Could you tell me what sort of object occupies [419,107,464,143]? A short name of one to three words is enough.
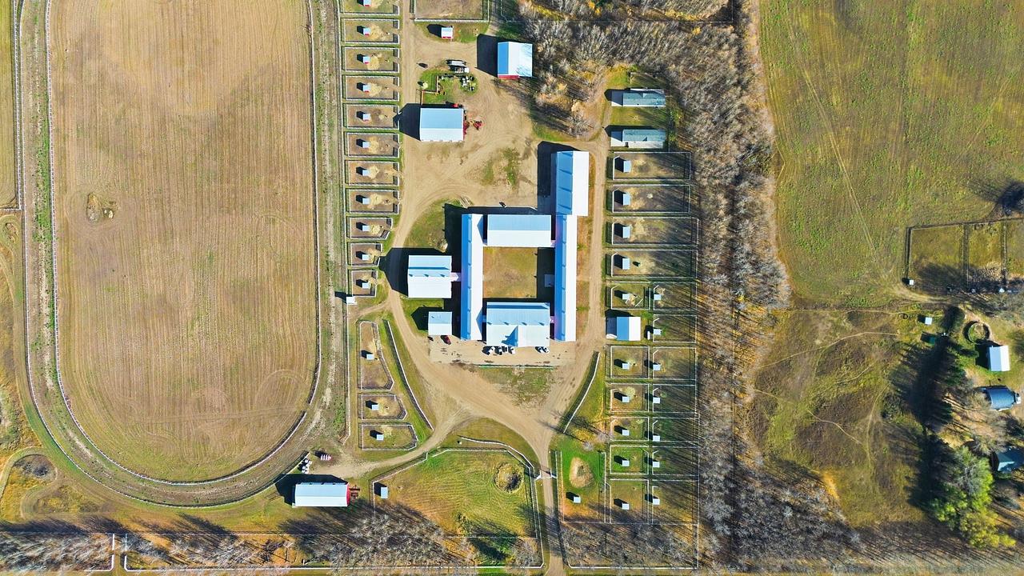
shed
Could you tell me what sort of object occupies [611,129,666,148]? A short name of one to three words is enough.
house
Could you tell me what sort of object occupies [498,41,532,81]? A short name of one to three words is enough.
barn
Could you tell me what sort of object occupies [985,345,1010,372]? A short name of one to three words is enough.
building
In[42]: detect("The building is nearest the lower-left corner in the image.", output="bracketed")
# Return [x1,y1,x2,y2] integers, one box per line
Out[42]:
[293,482,350,507]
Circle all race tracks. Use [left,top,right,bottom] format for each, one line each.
[21,0,349,509]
